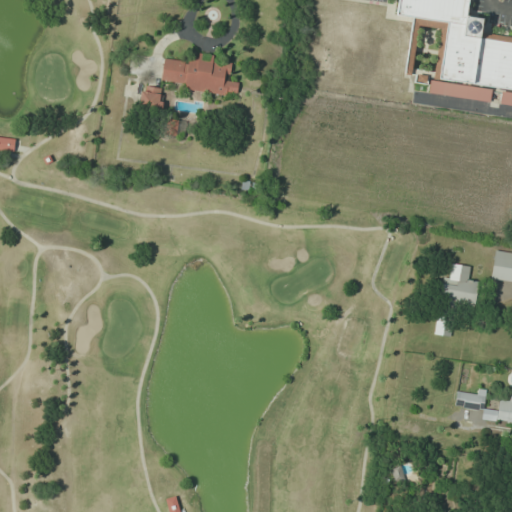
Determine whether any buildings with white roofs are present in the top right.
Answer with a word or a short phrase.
Yes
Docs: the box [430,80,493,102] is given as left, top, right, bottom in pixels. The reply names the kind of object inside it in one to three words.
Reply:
building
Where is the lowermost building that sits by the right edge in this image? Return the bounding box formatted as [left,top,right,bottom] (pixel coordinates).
[456,388,512,422]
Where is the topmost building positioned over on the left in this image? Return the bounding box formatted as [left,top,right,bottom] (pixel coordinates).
[162,52,240,96]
